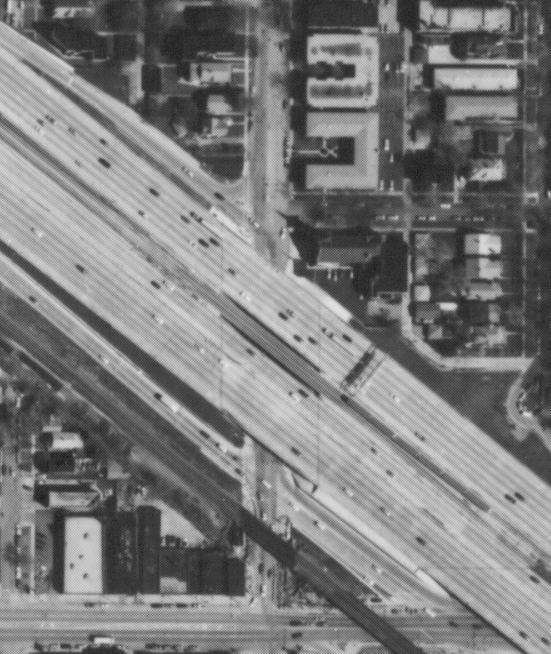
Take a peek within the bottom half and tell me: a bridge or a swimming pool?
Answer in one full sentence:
The one visible within the bottom half is a bridge.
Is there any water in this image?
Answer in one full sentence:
No, there is no water in the image.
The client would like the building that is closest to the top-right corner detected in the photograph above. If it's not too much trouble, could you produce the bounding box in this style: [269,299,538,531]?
[485,6,511,30]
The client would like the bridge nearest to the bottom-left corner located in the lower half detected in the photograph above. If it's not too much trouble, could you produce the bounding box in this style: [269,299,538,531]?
[238,506,292,568]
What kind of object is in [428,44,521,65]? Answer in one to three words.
building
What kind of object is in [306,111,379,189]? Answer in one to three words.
building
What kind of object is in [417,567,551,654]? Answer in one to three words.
overpass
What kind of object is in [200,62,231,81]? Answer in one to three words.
house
